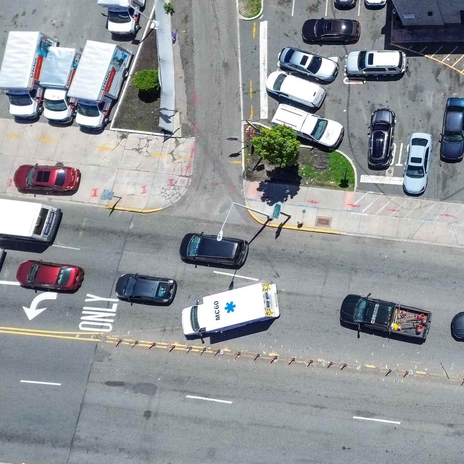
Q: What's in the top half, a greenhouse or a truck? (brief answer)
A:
truck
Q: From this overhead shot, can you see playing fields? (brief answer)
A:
No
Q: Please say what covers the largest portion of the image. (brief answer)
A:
paved ground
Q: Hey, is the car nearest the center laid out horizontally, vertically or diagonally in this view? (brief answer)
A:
horizontally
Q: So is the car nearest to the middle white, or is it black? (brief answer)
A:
black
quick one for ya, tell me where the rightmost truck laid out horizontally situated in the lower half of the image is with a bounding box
[337,296,432,339]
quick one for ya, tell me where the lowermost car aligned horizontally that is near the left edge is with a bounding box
[15,259,88,293]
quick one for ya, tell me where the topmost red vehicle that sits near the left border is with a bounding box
[13,162,83,193]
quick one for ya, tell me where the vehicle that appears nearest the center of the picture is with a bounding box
[177,232,251,269]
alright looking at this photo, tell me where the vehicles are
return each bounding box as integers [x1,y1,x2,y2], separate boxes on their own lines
[39,49,82,127]
[401,131,434,198]
[179,285,283,343]
[0,31,61,118]
[15,259,88,293]
[301,16,361,45]
[113,273,181,305]
[263,71,329,111]
[450,312,464,339]
[98,0,146,35]
[344,49,408,79]
[264,98,347,146]
[13,162,83,193]
[337,296,432,339]
[69,41,134,128]
[439,97,464,163]
[274,48,341,85]
[0,199,67,245]
[365,109,395,171]
[177,232,251,269]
